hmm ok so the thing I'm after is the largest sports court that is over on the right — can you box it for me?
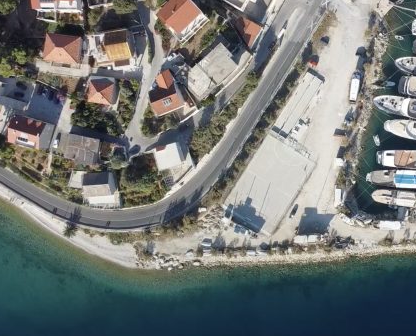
[223,134,316,235]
